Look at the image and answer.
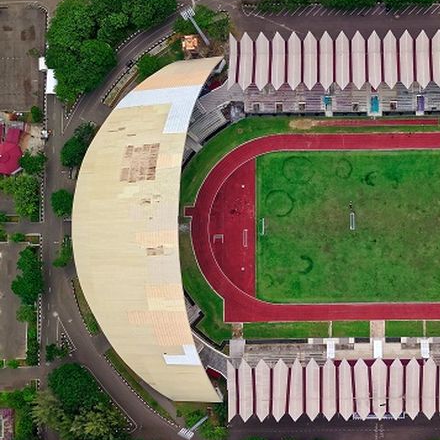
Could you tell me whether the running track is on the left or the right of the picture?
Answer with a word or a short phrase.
right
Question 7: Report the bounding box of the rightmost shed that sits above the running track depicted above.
[182,34,201,60]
